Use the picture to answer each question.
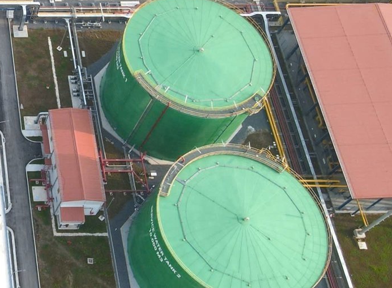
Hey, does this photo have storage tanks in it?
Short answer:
Yes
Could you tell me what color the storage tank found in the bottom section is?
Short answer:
green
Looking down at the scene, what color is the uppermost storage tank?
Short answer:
green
